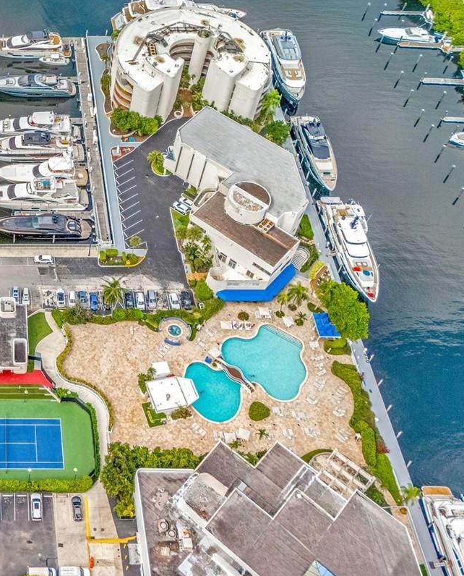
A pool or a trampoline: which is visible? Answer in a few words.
pool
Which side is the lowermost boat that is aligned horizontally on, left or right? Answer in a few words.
left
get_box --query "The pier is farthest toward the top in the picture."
[379,8,436,27]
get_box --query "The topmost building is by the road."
[111,8,274,132]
